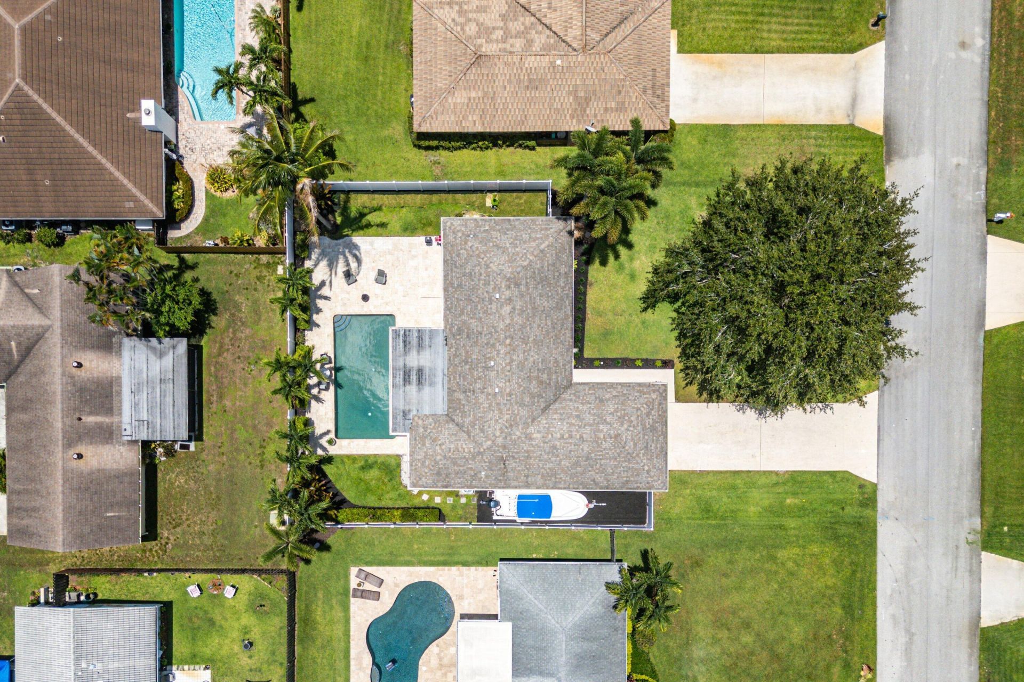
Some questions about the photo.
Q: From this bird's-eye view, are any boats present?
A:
Yes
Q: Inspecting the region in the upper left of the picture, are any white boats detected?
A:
No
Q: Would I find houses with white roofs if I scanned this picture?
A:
Yes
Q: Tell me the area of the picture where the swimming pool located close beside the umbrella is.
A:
top left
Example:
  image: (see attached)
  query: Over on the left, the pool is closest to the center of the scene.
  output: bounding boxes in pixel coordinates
[330,310,400,443]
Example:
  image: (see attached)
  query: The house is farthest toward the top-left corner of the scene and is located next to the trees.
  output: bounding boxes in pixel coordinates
[0,0,180,220]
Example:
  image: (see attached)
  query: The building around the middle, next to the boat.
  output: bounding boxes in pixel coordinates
[388,216,669,491]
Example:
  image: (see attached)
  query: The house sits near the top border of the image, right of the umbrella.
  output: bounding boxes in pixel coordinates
[411,0,672,138]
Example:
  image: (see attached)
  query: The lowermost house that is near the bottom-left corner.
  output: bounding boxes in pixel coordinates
[14,604,161,682]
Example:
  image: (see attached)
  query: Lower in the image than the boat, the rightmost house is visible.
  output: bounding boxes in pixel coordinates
[456,561,628,682]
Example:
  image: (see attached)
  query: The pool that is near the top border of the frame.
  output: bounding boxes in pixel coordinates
[170,0,239,124]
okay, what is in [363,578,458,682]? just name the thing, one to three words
swimming pool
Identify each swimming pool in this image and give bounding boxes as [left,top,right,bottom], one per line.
[330,310,400,443]
[363,578,458,682]
[170,0,239,124]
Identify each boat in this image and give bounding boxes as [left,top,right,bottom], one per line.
[477,491,589,523]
